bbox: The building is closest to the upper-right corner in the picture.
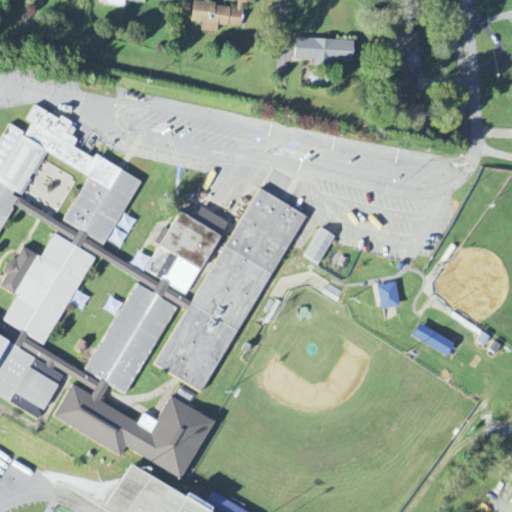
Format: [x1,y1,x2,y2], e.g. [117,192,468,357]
[294,38,354,66]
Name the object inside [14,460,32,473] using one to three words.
vehicle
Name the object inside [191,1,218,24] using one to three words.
house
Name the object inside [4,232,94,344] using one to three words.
building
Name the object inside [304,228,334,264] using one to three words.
shed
